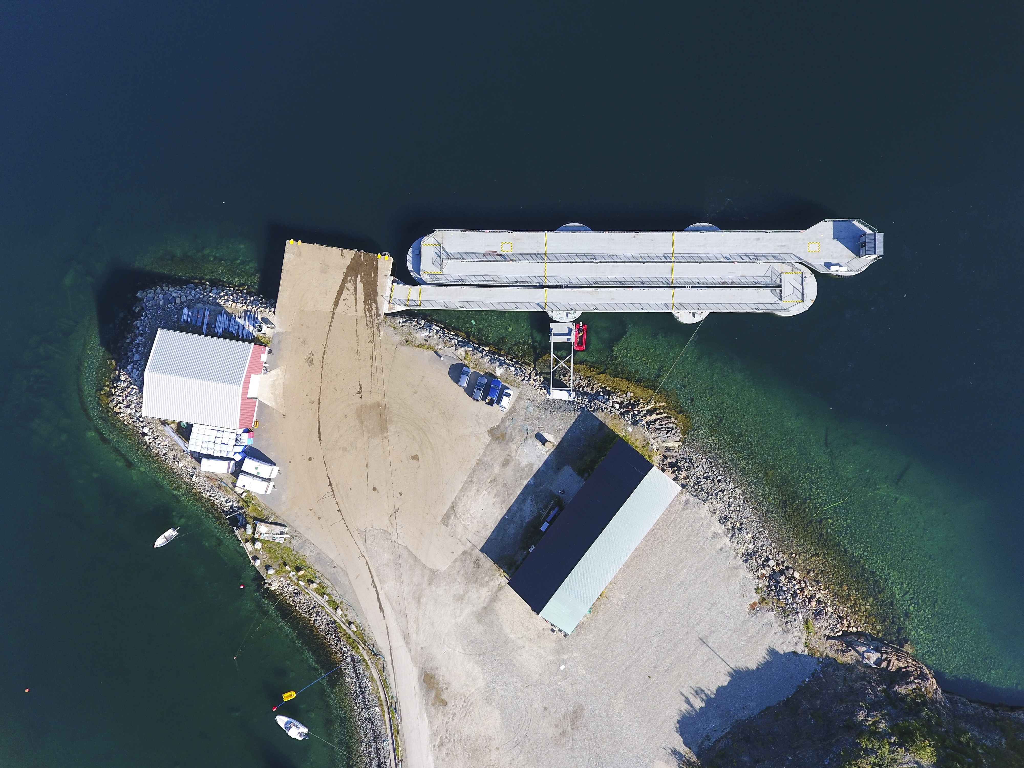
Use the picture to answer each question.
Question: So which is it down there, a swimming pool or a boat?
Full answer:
It is a boat that can be seen here.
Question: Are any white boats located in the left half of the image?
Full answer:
Yes, you'll find a white boat in the left half of the image.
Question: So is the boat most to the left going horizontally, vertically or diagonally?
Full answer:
The boat most to the left is laid out diagonally.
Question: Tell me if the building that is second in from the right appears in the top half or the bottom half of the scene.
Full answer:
The building that is second in from the right is in the bottom half of the image.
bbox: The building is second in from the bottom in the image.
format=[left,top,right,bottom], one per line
[143,327,266,432]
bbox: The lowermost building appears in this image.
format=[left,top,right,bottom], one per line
[507,439,682,633]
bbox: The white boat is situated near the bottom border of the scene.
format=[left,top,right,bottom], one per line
[275,715,307,742]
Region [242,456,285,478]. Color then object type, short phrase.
white camper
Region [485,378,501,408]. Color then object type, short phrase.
blue vehicle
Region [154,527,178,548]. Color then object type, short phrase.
white boat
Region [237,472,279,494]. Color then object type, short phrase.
white camper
